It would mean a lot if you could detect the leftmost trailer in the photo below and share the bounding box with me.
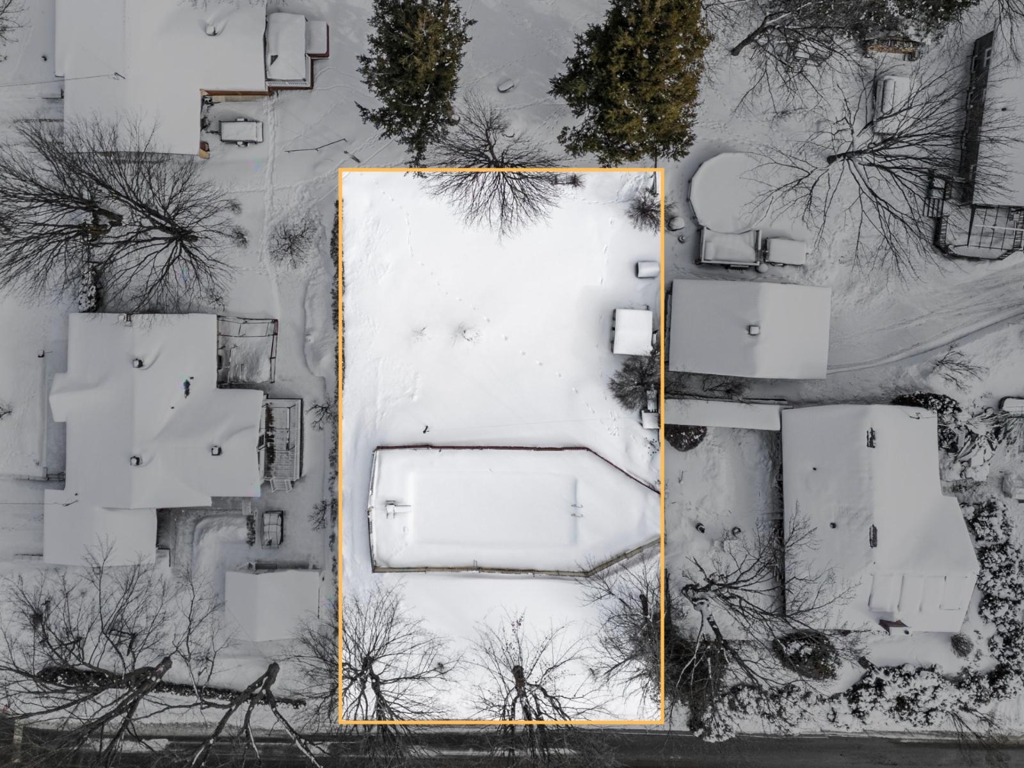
[206,117,264,145]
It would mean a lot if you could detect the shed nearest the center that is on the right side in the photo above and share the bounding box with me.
[611,309,653,354]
